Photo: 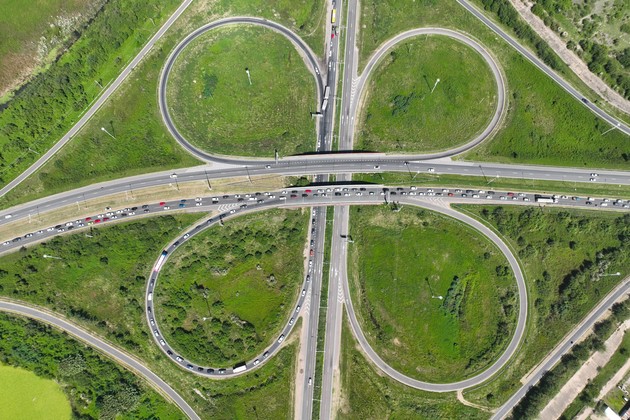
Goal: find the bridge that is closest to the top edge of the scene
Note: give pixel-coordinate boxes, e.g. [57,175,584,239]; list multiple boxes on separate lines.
[272,151,393,176]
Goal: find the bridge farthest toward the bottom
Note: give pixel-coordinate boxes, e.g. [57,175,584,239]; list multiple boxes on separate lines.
[265,184,394,210]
